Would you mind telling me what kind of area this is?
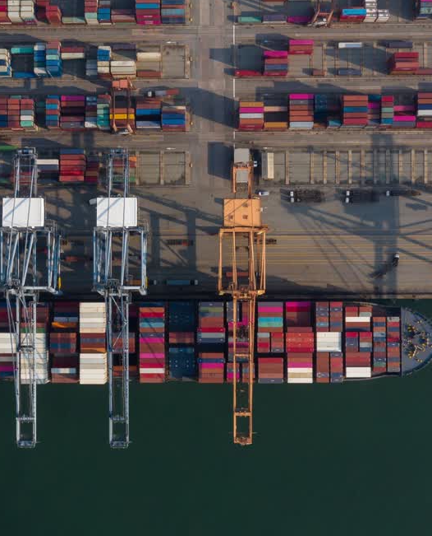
port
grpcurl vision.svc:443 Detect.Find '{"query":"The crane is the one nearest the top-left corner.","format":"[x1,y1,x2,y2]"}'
[110,74,136,138]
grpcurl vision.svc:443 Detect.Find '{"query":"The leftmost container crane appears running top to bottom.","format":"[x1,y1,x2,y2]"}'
[0,147,76,446]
